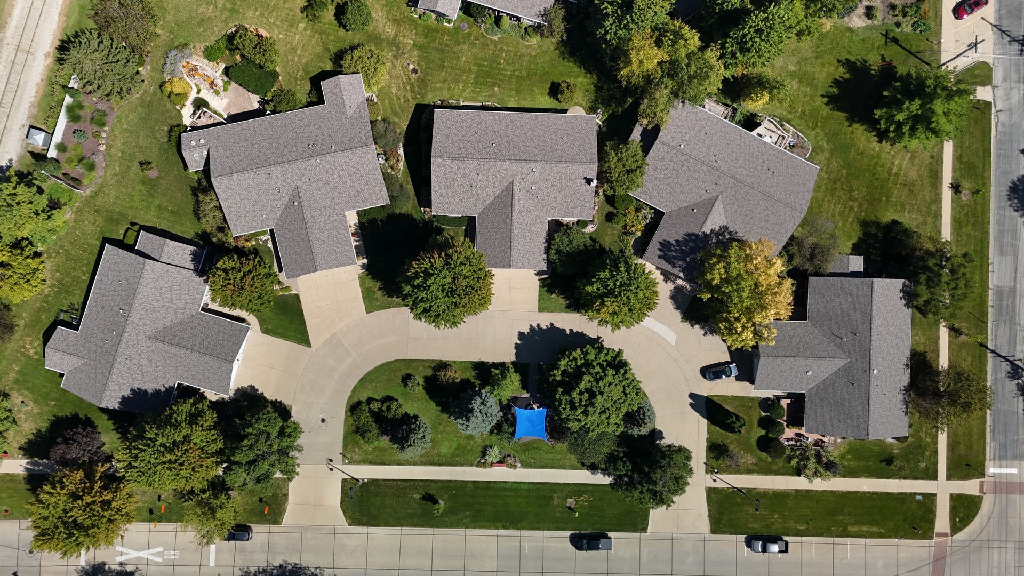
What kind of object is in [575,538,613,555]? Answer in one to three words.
vehicle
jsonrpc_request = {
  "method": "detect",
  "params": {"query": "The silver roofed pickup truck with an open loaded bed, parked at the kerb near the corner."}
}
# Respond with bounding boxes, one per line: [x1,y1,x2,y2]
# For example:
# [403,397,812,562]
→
[753,540,792,557]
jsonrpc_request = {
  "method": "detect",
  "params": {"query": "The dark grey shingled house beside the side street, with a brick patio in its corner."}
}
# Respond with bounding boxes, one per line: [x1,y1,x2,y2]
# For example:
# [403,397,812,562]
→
[750,255,913,439]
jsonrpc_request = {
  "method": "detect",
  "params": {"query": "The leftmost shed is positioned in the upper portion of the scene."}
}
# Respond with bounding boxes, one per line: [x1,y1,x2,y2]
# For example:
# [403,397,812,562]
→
[22,127,49,149]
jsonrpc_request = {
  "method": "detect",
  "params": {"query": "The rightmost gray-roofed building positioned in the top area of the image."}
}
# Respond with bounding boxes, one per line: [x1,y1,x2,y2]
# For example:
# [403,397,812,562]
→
[627,103,819,290]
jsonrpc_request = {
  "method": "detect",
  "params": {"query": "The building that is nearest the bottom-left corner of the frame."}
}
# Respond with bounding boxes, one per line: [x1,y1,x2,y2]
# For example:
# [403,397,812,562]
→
[44,230,254,415]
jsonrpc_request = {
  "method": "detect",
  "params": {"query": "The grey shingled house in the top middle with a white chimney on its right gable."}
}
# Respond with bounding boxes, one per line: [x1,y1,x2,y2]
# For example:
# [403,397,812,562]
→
[431,109,597,270]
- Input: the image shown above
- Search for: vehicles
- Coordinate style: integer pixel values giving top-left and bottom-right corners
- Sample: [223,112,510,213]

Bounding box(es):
[575,538,613,555]
[705,363,738,381]
[753,540,792,557]
[218,526,251,543]
[957,0,992,17]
